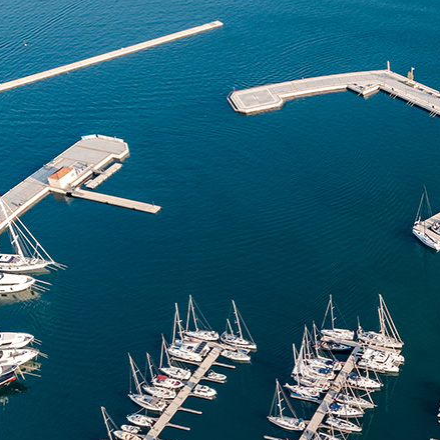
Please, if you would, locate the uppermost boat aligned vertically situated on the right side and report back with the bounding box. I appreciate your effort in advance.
[408,187,440,249]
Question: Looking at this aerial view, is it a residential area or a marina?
marina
